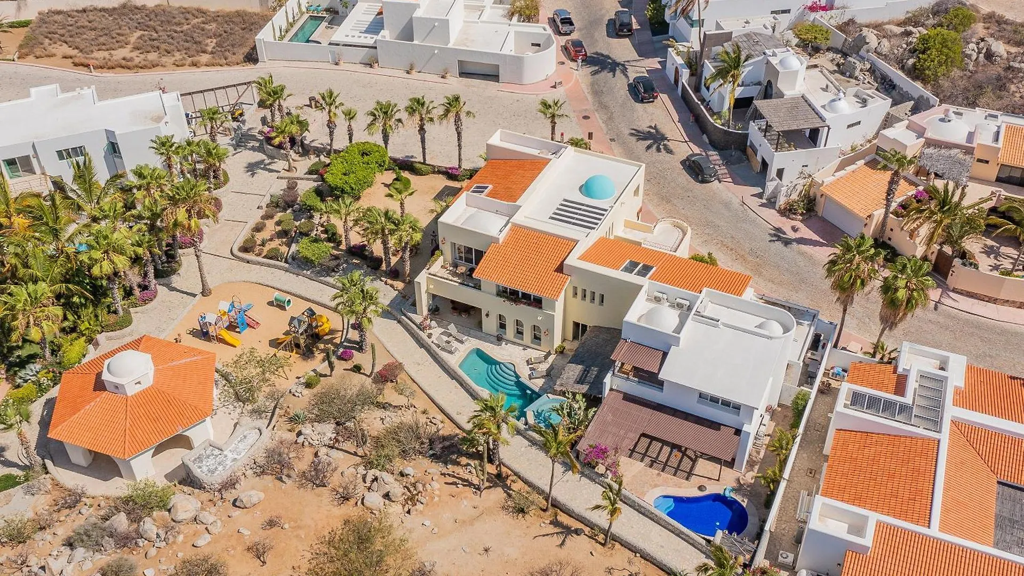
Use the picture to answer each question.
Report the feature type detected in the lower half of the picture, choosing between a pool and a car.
pool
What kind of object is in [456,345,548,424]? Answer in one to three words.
swimming pool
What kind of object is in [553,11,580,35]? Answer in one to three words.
truck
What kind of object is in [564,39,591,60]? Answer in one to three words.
car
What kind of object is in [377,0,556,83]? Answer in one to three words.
house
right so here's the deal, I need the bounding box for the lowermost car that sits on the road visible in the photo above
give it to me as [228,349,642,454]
[683,152,723,182]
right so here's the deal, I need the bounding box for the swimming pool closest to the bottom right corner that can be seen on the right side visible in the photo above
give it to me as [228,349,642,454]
[644,485,759,545]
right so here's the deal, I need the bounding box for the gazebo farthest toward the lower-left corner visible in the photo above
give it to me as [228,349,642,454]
[47,333,217,486]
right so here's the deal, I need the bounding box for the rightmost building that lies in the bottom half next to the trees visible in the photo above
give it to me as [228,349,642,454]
[794,342,1024,576]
